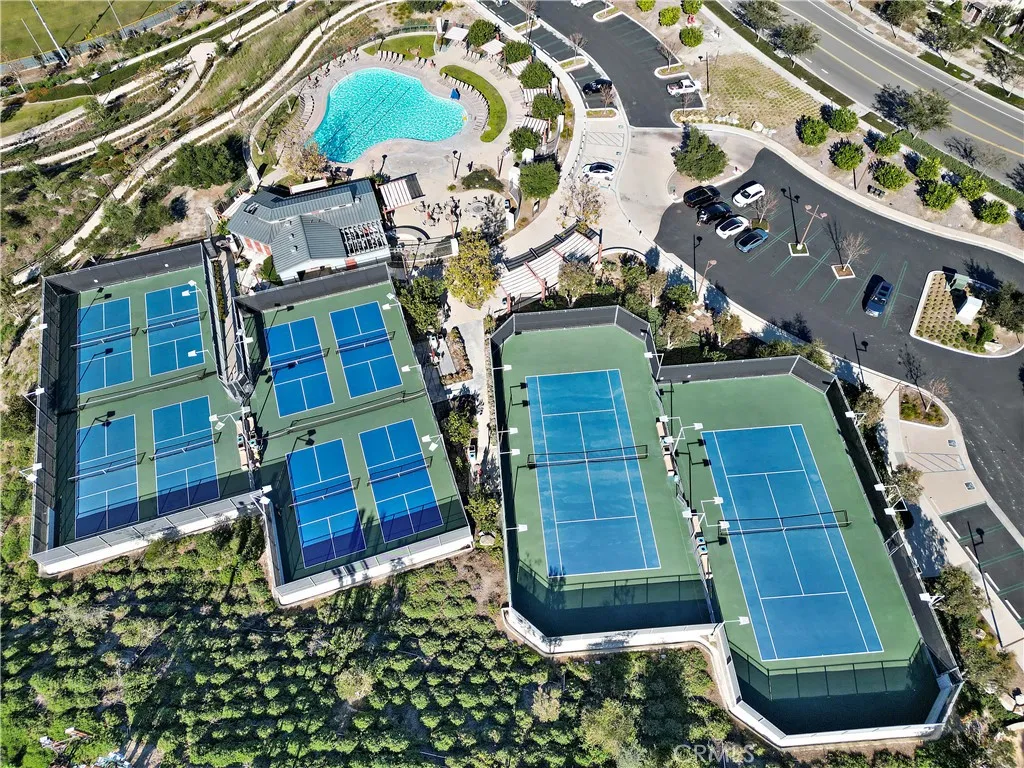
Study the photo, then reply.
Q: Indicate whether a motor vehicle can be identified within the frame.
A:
Yes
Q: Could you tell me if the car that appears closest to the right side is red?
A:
No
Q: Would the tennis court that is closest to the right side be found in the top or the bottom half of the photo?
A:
bottom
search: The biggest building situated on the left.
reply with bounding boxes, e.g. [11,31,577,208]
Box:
[230,181,393,288]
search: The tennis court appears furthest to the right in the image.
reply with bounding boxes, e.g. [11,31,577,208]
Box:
[659,373,942,737]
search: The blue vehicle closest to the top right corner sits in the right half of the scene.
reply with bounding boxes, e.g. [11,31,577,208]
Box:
[867,281,896,314]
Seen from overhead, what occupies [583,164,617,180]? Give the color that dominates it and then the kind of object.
white car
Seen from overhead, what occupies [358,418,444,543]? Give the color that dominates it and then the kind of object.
blue sports court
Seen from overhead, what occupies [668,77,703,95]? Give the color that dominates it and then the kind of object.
white vehicle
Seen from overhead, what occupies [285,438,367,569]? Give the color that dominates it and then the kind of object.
blue sports court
